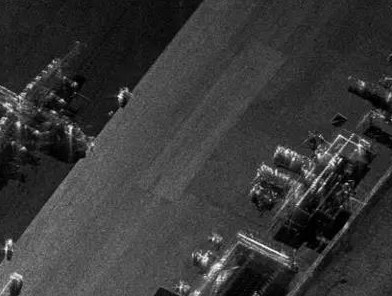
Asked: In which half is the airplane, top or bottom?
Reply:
top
